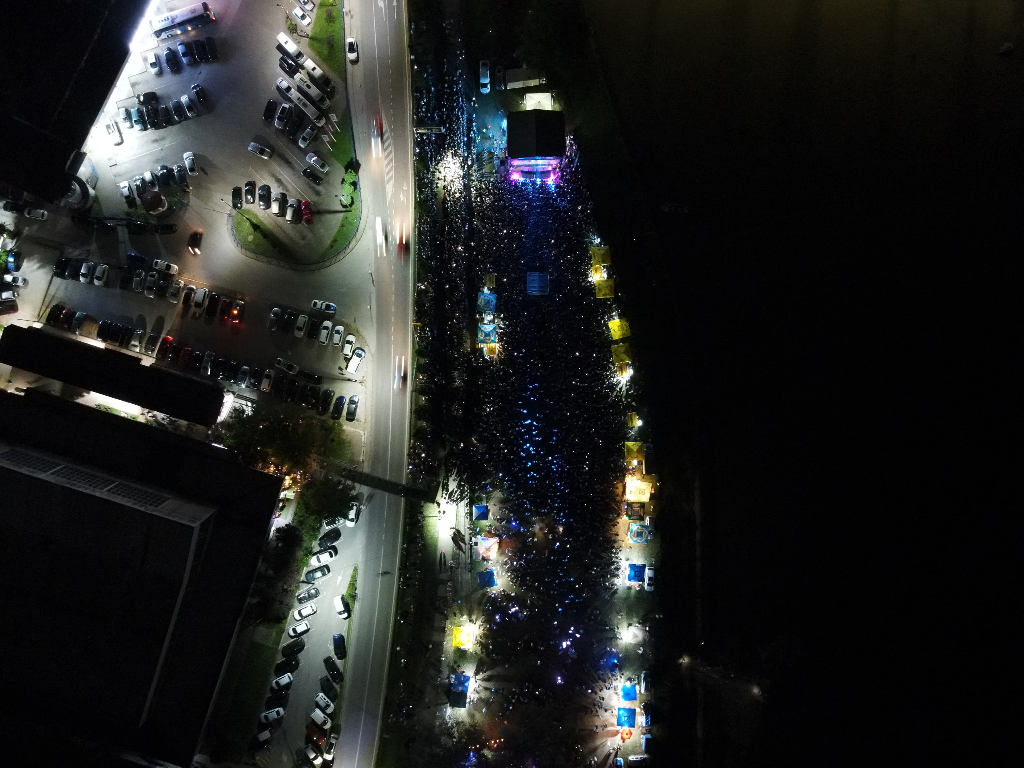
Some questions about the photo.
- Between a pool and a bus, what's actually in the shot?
bus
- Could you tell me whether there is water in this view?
Yes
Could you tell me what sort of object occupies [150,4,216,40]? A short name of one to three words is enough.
bus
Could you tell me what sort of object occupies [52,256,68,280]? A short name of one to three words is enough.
car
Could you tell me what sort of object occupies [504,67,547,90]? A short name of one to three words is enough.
truck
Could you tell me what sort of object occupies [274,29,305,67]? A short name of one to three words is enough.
vehicle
